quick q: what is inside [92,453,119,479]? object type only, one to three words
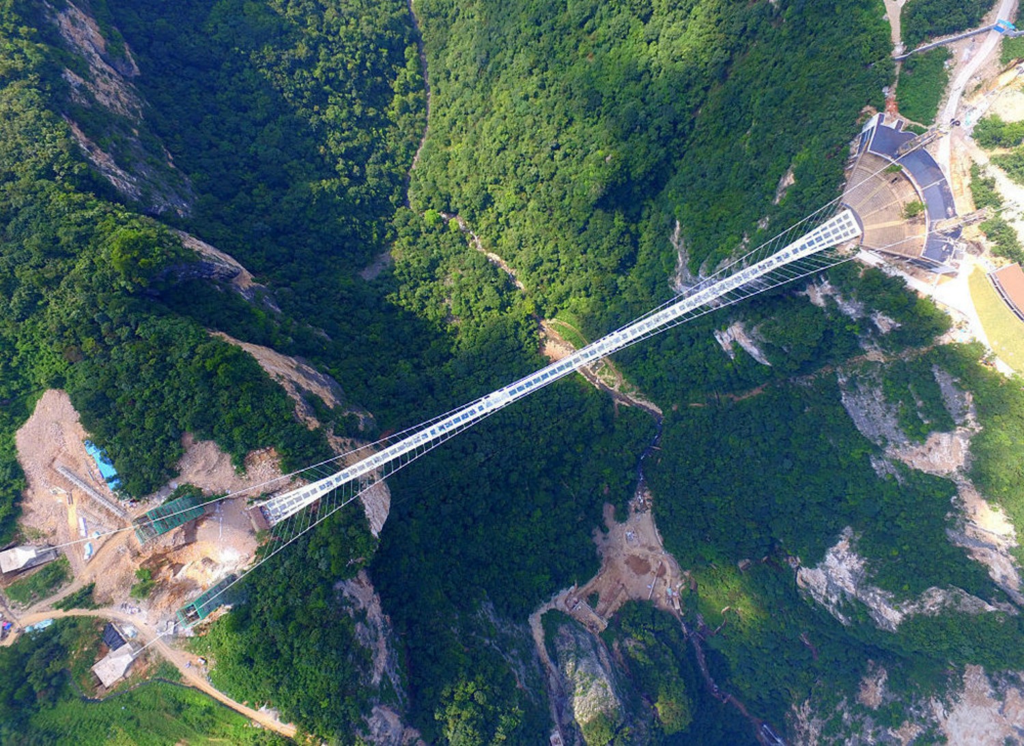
shed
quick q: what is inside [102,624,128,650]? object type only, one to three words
shed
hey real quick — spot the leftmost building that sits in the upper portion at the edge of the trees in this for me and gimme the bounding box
[834,112,955,277]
